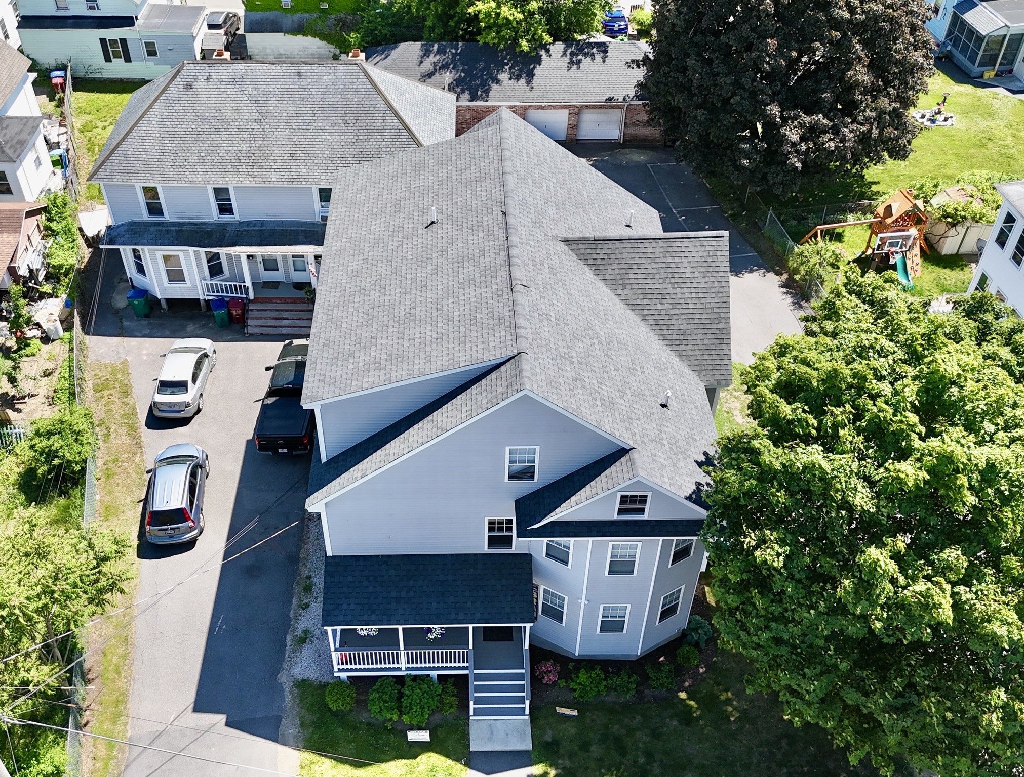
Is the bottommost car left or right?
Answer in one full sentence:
The bottommost car is on the left side of the image.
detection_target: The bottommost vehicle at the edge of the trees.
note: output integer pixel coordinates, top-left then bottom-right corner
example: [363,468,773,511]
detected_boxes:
[146,441,212,542]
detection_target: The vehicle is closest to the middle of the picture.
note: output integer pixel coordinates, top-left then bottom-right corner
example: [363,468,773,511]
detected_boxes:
[254,339,315,454]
